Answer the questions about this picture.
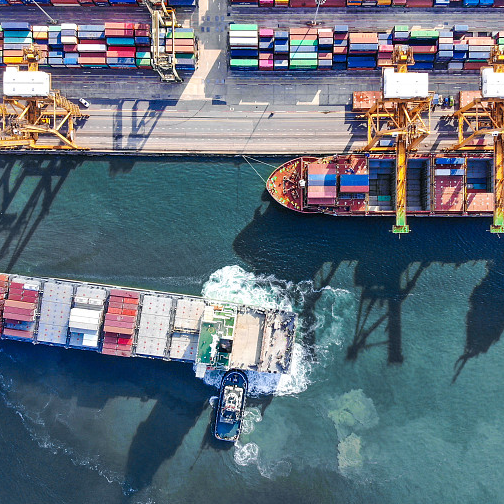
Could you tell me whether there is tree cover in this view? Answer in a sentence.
No, no tree cover is visible.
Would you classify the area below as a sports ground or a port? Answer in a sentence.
This looks like a port.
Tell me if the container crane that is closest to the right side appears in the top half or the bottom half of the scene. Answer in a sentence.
You can find the container crane that is closest to the right side in the top half.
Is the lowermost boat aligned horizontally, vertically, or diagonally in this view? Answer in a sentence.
In this picture, the lowermost boat lies vertically.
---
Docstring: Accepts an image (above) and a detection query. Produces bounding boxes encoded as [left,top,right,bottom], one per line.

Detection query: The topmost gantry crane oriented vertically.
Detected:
[152,8,184,77]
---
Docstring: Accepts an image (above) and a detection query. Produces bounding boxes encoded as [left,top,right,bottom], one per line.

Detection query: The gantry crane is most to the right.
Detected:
[431,47,504,243]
